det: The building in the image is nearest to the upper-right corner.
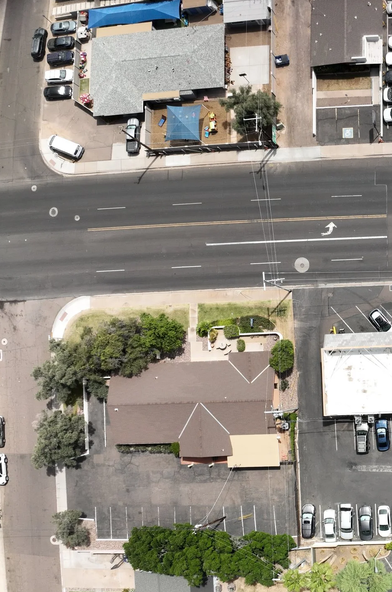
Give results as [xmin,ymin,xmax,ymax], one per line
[311,0,386,72]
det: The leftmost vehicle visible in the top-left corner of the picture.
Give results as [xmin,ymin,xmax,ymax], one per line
[29,27,50,61]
